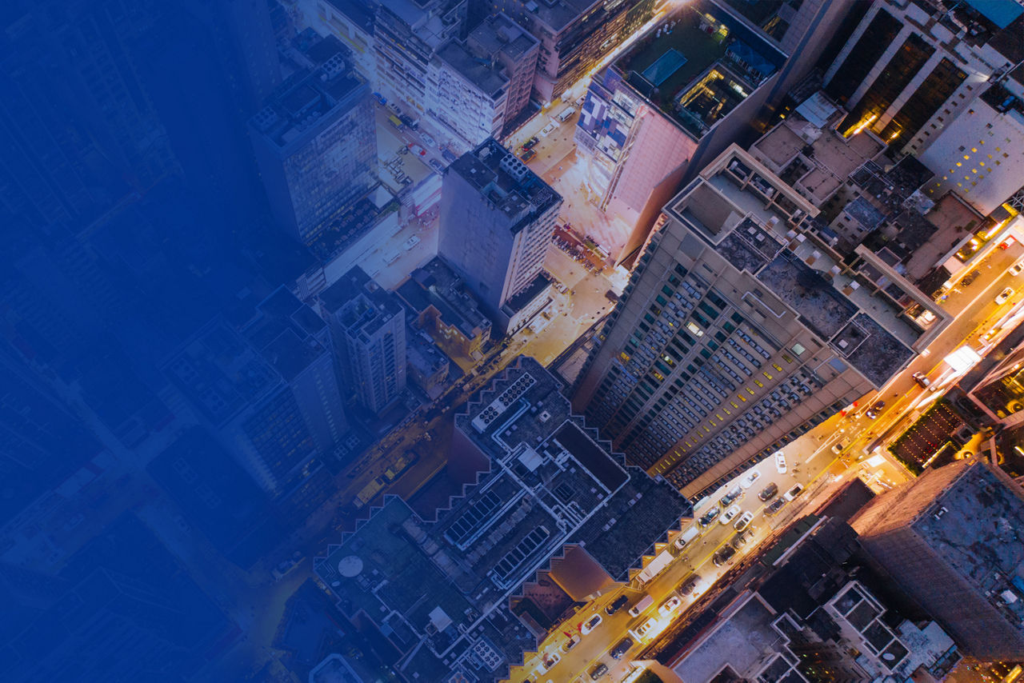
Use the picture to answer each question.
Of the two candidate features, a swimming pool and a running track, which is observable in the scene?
swimming pool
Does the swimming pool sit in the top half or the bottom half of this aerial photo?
top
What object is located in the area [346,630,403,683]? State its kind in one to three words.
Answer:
building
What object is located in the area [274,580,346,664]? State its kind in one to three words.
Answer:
building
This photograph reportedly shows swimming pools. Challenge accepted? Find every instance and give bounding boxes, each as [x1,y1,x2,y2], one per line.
[644,50,685,85]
